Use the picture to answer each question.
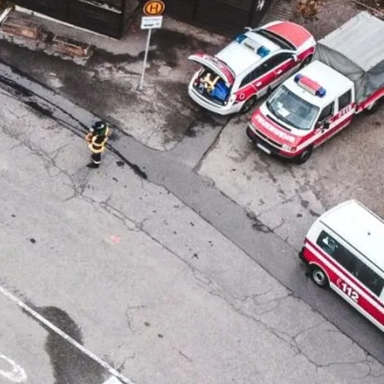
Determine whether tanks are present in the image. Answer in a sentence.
No, I find no tank anywhere in the image.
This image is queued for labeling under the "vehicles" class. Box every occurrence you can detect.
[298,196,384,332]
[182,14,318,124]
[242,3,384,166]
